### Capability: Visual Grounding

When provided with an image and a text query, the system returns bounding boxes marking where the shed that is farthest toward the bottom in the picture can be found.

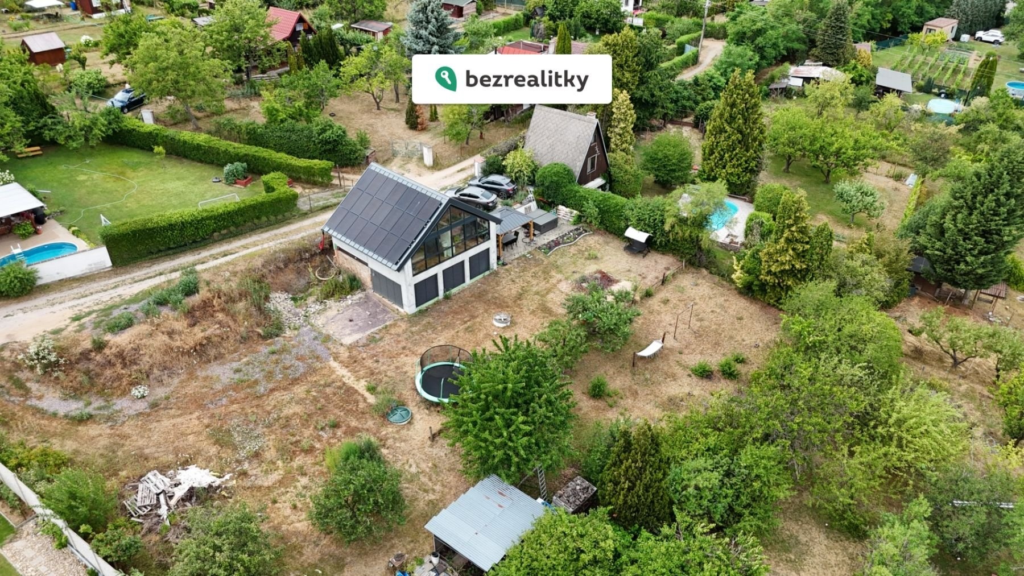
[424,477,544,576]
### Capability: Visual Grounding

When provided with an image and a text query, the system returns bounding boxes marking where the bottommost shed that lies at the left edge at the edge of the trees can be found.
[17,28,65,63]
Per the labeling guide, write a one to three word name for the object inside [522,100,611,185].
house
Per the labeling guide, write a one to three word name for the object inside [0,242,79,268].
swimming pool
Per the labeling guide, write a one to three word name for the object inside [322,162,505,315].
house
